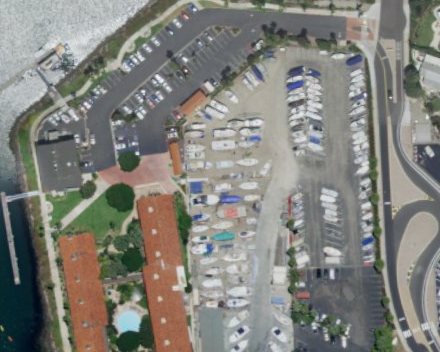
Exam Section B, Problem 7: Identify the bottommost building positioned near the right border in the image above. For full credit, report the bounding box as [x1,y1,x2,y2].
[414,123,432,142]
